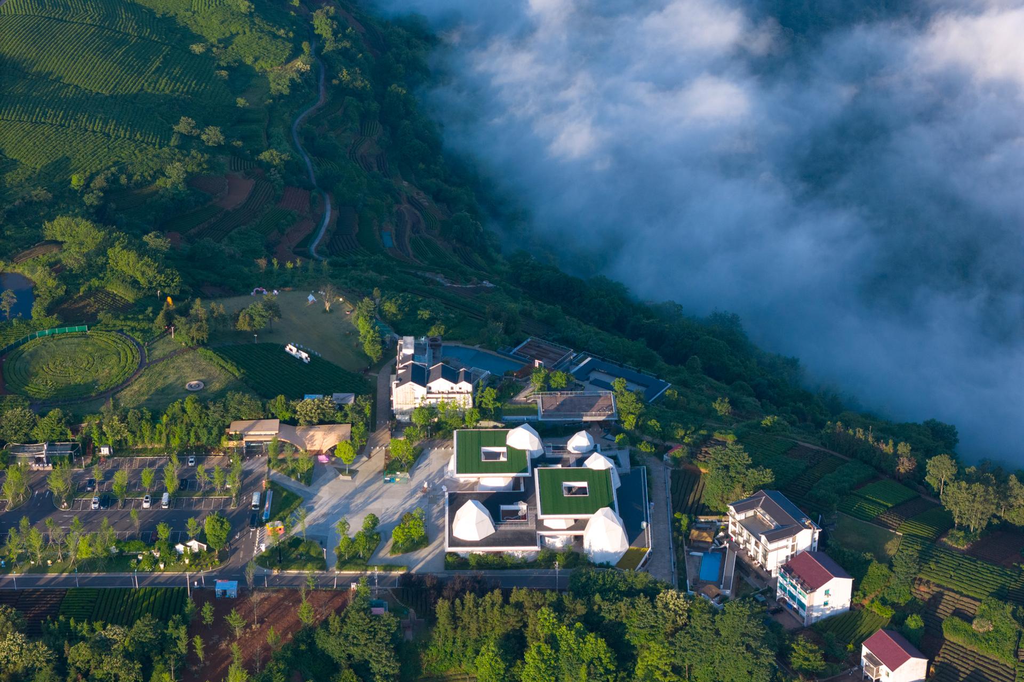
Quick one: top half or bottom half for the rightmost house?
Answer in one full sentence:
It is in the bottom half that the rightmost house appears.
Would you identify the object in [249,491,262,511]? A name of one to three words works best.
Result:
vehicle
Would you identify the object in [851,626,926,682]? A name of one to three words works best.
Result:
house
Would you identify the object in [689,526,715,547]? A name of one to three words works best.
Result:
gazebo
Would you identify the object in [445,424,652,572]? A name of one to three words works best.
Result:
building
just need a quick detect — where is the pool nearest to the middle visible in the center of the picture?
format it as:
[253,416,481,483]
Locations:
[442,346,524,375]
